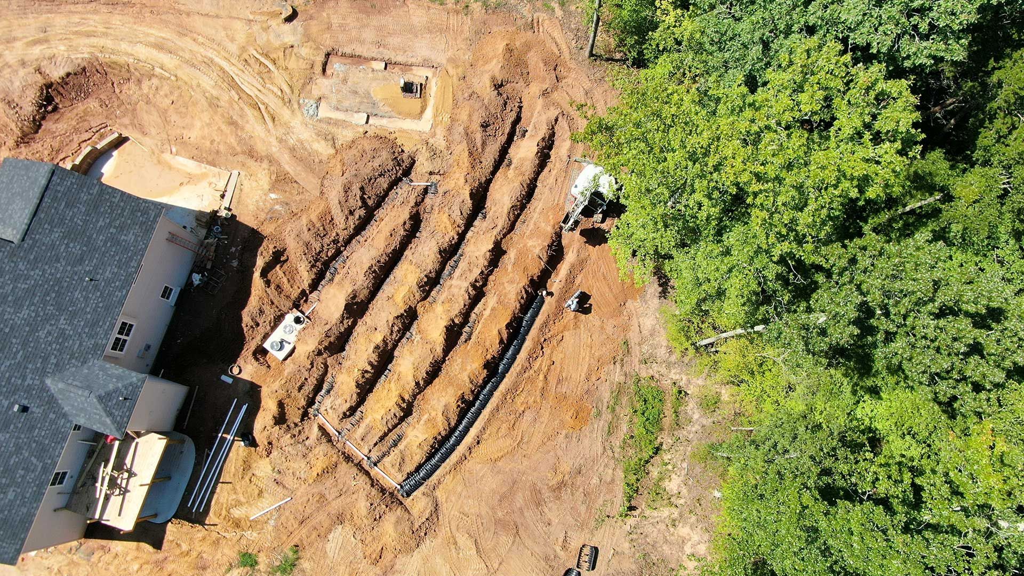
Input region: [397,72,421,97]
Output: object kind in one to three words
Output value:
work vehicle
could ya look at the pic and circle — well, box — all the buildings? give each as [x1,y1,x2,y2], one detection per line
[0,149,202,565]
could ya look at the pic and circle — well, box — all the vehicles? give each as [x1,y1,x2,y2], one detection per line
[397,72,421,97]
[560,155,614,238]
